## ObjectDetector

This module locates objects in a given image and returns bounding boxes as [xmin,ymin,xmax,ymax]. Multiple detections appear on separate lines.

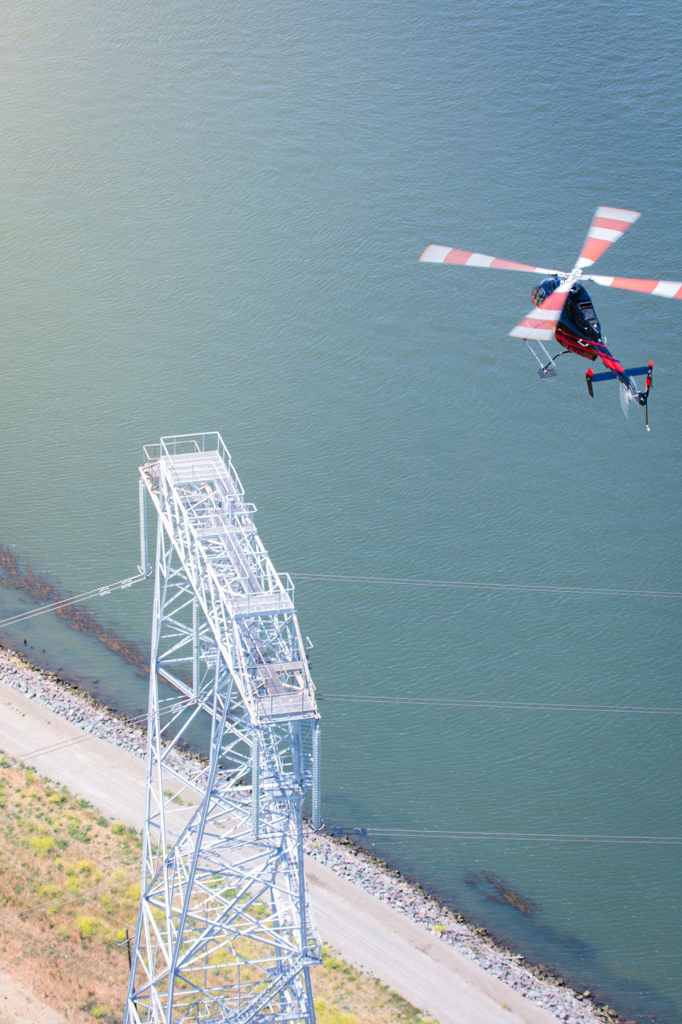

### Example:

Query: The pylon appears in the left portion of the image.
[119,431,325,1024]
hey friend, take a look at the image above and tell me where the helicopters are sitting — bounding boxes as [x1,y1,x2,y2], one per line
[422,207,682,437]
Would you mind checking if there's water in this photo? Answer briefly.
Yes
